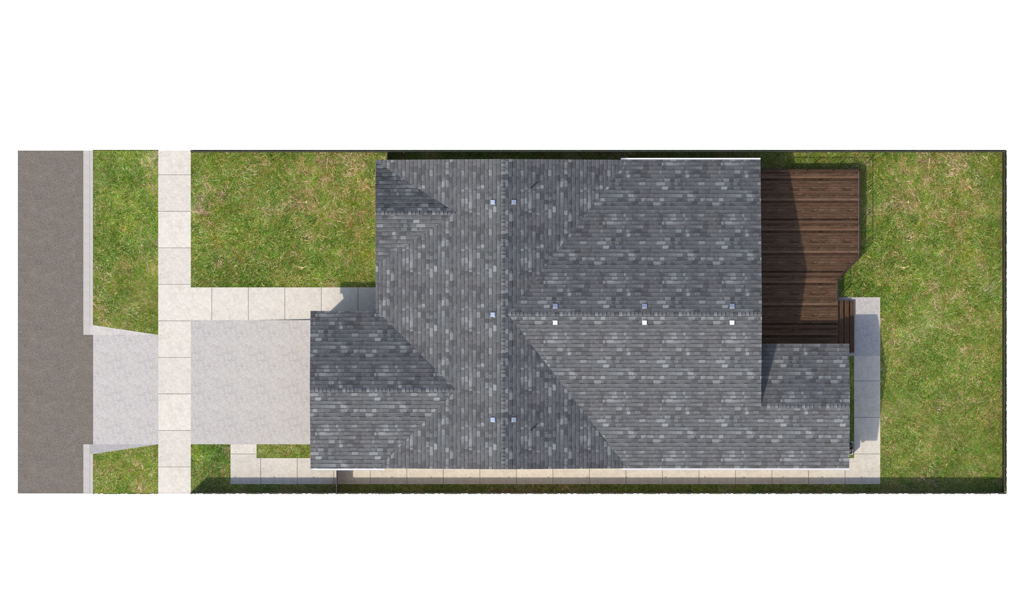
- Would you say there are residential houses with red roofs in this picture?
No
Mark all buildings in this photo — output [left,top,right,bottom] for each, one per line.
[310,158,850,470]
